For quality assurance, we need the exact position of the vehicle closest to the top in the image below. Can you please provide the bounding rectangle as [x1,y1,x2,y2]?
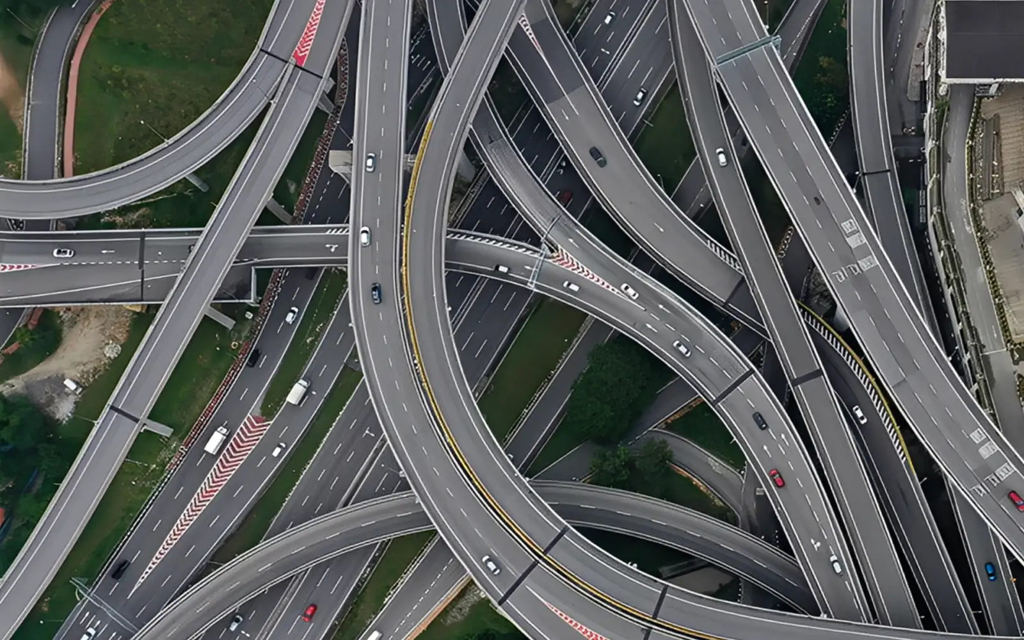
[603,10,617,27]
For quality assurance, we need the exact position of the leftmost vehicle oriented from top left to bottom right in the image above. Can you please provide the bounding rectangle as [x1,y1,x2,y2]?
[62,378,80,394]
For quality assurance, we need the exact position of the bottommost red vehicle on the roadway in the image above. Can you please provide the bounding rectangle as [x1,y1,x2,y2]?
[302,603,317,622]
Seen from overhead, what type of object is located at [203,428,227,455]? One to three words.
truck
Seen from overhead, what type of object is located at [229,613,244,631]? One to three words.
car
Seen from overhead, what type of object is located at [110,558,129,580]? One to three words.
car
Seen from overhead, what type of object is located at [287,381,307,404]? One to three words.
vehicle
